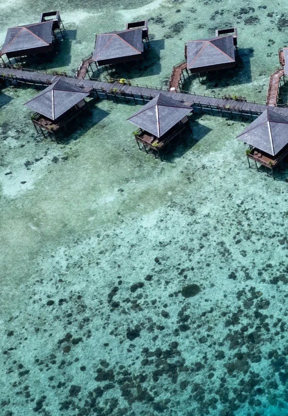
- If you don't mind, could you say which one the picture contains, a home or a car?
home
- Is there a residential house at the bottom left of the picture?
No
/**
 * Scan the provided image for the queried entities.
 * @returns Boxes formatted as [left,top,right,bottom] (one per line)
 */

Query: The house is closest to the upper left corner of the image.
[0,18,61,68]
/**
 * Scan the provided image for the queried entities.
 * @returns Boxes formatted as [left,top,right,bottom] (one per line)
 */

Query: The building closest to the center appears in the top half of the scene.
[123,99,192,166]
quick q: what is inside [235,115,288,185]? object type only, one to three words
house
